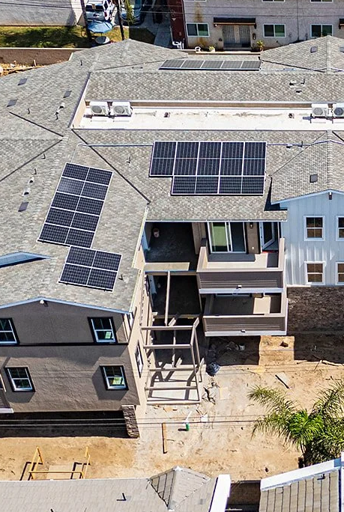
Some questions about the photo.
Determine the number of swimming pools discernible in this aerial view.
0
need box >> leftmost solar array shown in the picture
[37,161,122,290]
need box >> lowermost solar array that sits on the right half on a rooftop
[147,140,266,194]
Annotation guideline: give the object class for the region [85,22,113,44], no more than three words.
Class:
umbrella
